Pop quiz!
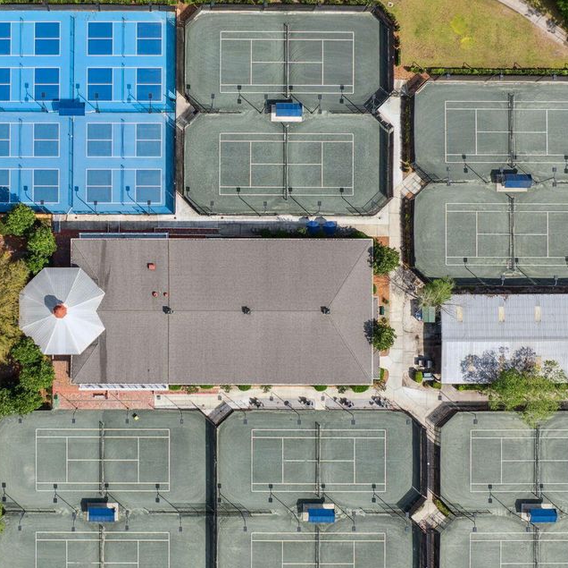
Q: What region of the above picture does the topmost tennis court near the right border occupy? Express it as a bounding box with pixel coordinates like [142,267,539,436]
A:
[410,81,568,182]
